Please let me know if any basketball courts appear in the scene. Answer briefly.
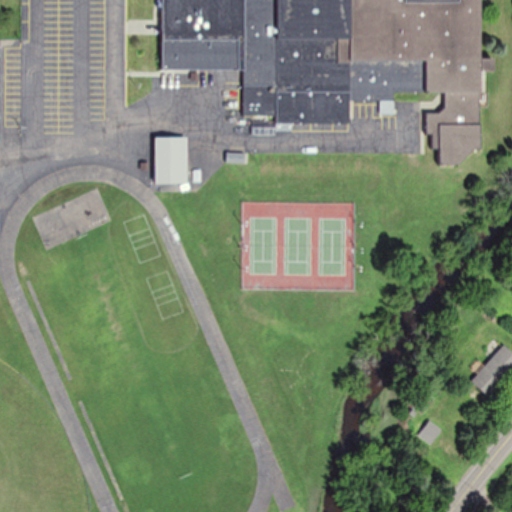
Yes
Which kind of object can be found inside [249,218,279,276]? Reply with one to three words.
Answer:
tennis court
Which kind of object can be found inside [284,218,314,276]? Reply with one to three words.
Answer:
tennis court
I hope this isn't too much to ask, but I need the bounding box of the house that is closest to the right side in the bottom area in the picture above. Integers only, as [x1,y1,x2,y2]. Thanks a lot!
[472,344,512,393]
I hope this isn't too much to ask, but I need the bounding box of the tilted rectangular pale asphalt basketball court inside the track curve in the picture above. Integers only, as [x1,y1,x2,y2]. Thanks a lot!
[33,188,111,250]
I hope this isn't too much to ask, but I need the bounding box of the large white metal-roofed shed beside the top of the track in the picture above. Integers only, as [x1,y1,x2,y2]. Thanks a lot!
[153,136,188,185]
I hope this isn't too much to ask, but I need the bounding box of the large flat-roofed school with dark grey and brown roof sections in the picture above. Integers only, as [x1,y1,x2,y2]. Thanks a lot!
[160,0,495,166]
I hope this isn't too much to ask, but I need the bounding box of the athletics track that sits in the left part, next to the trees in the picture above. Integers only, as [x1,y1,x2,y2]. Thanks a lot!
[0,165,296,512]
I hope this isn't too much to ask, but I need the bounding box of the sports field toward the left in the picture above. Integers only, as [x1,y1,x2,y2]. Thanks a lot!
[14,182,259,512]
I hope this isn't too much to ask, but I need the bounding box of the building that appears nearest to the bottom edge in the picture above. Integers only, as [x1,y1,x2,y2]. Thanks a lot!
[418,420,442,446]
